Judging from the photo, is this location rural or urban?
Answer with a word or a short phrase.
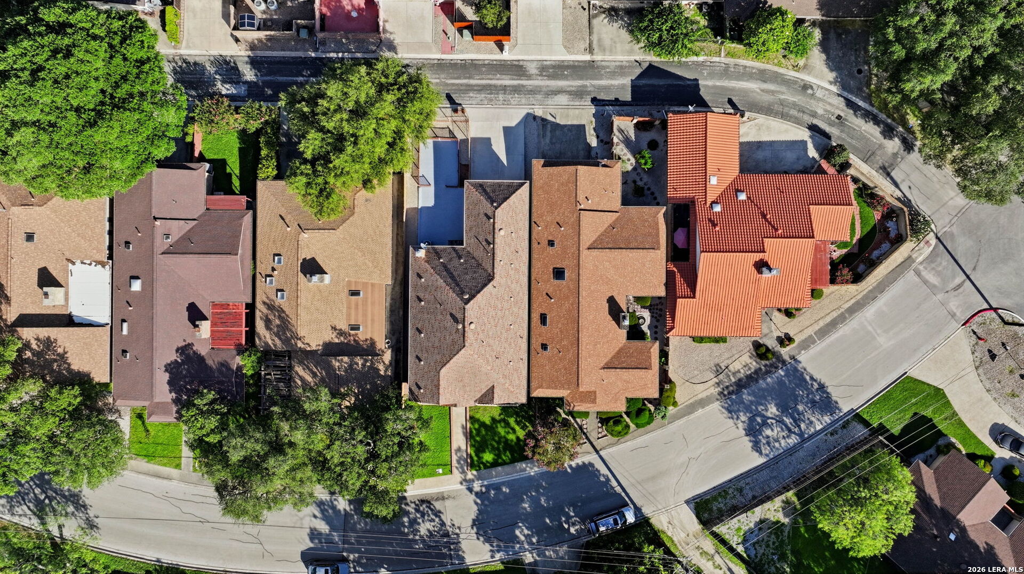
urban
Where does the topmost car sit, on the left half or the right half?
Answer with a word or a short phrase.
right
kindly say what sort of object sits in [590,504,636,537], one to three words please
car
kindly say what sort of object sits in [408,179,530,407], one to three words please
house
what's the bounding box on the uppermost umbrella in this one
[671,229,691,248]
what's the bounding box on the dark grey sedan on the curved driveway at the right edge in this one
[994,434,1024,462]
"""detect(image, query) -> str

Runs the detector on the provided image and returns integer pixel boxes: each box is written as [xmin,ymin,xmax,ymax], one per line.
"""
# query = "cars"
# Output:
[994,434,1024,462]
[590,504,636,537]
[307,561,351,574]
